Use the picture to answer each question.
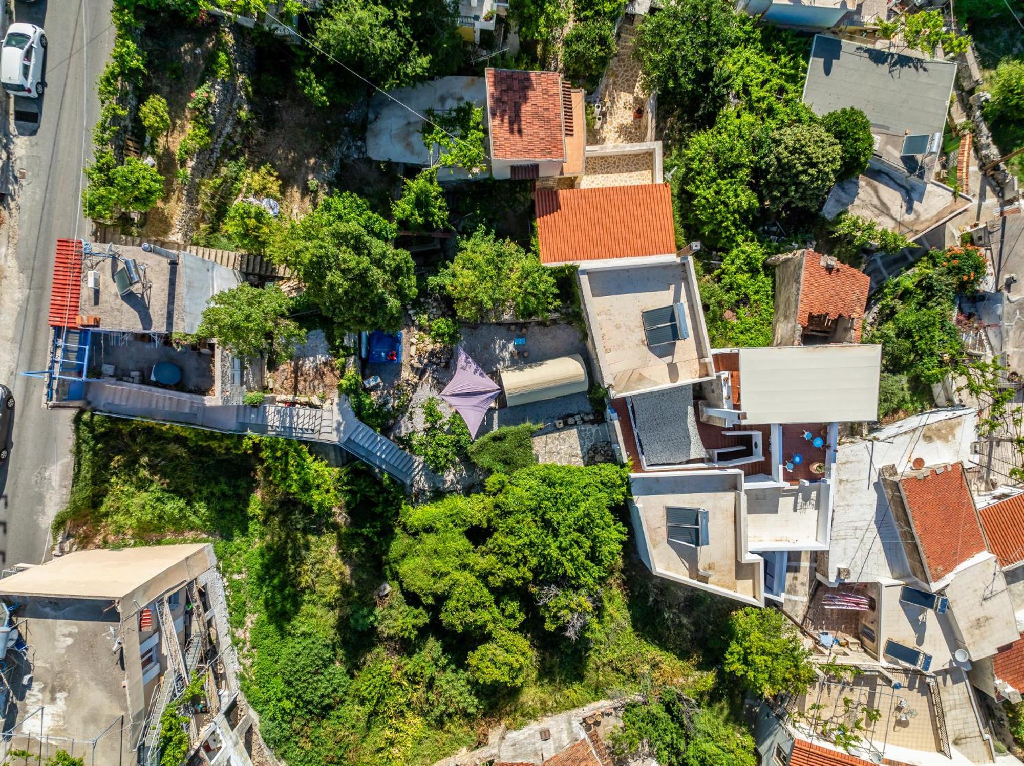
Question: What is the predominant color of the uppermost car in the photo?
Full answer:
In this view, the uppermost car is white.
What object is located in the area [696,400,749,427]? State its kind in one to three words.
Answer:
chimney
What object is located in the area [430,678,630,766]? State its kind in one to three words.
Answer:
house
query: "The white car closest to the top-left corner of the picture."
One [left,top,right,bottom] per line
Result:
[0,23,46,97]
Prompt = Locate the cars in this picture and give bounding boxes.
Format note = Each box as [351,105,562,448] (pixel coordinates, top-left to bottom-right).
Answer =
[0,392,13,462]
[0,23,46,97]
